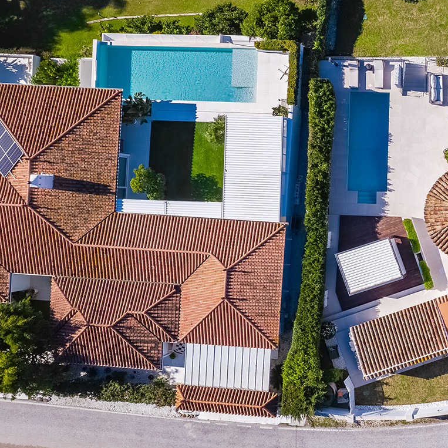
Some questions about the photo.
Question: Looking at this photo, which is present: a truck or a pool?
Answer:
pool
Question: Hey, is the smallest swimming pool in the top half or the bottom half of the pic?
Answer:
top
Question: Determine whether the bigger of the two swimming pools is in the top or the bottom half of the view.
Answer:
top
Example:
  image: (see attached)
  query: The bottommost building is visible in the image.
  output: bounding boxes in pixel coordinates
[174,382,282,419]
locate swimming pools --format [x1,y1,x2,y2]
[348,92,389,203]
[101,44,256,101]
